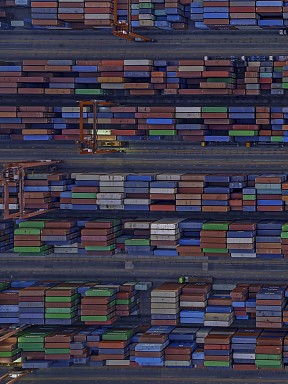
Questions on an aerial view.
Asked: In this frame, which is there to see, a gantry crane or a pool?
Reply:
gantry crane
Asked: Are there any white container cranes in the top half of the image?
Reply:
No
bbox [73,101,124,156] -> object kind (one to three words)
container crane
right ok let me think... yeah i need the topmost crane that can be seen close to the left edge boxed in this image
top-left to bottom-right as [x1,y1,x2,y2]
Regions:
[0,161,57,220]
